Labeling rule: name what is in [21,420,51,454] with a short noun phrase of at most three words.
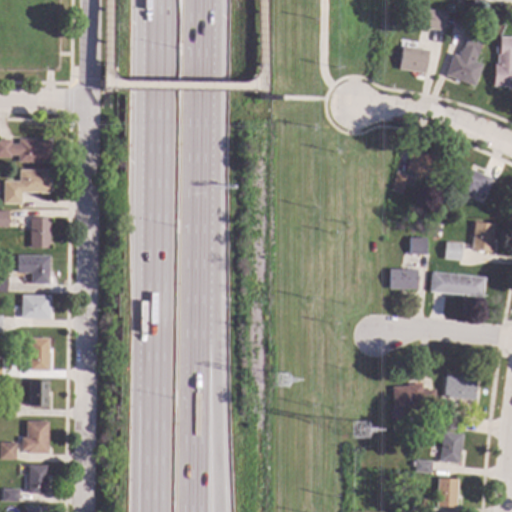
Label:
house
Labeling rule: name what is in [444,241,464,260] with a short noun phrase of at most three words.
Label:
building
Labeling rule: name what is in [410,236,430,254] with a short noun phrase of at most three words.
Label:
building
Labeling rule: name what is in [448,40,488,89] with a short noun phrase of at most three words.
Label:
house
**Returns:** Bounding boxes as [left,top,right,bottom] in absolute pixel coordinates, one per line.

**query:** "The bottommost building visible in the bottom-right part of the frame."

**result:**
[438,478,460,507]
